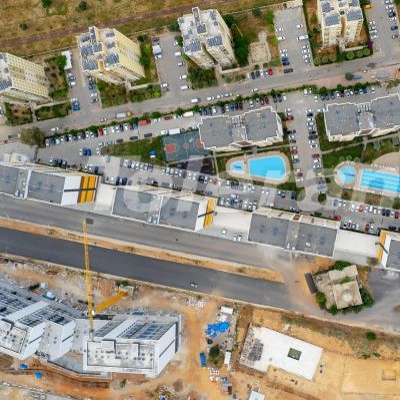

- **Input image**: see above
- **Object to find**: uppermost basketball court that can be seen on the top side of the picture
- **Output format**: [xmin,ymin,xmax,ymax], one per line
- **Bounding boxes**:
[162,129,207,162]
